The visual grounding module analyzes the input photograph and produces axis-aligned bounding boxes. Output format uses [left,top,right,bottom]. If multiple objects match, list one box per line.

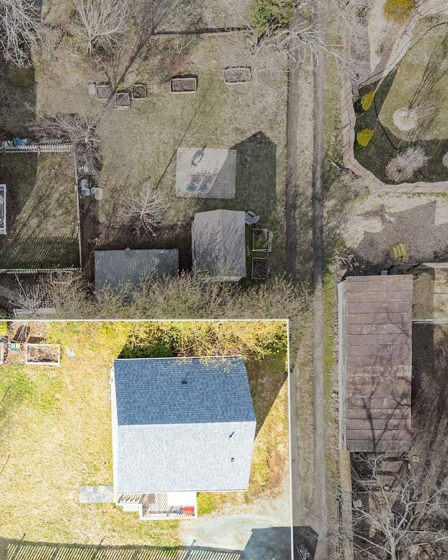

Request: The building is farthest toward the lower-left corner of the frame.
[109,357,257,494]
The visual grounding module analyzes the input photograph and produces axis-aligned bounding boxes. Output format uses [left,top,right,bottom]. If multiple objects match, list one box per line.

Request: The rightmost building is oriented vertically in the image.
[334,275,413,451]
